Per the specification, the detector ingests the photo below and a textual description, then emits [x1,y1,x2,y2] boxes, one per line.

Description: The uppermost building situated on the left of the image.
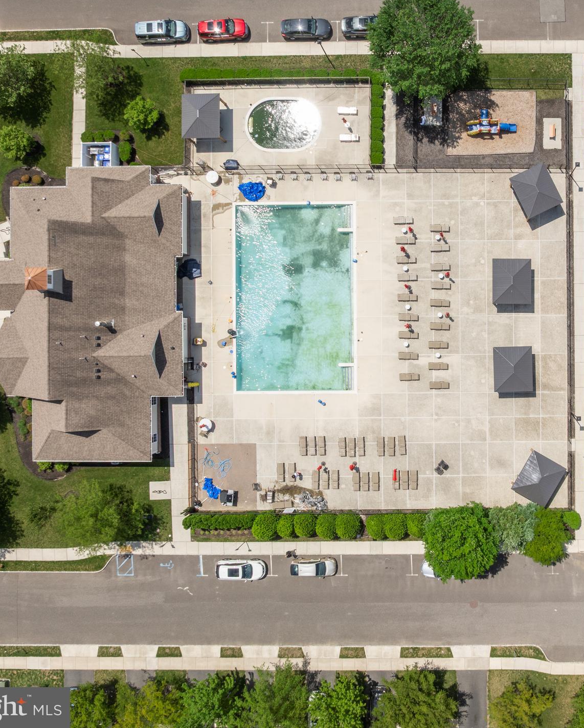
[181,93,226,143]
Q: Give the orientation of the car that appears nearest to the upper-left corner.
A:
from side to side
